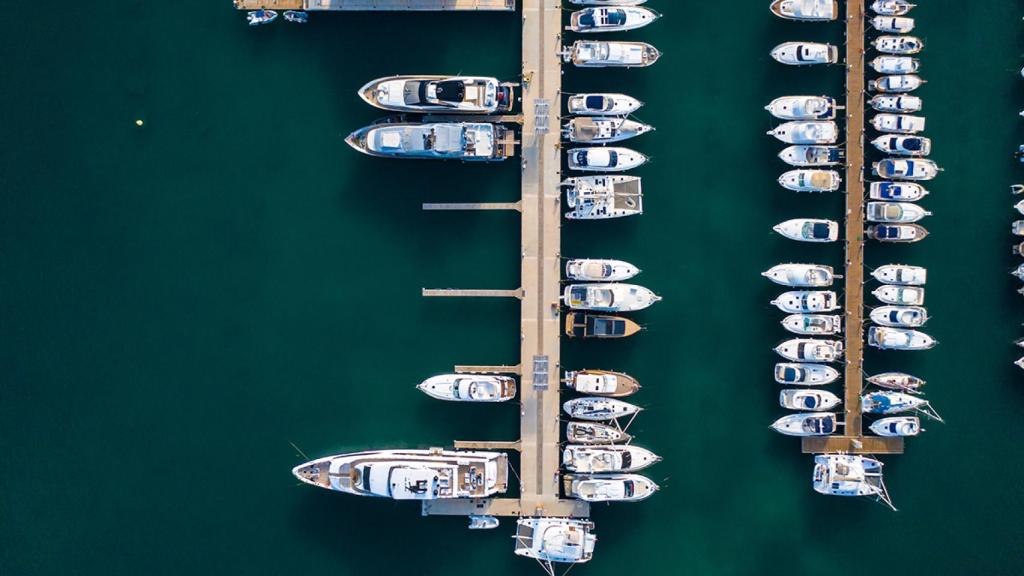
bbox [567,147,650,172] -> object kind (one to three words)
boat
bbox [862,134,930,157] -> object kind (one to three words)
boat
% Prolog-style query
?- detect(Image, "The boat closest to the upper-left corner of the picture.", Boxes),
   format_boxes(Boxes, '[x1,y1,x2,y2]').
[247,11,277,25]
